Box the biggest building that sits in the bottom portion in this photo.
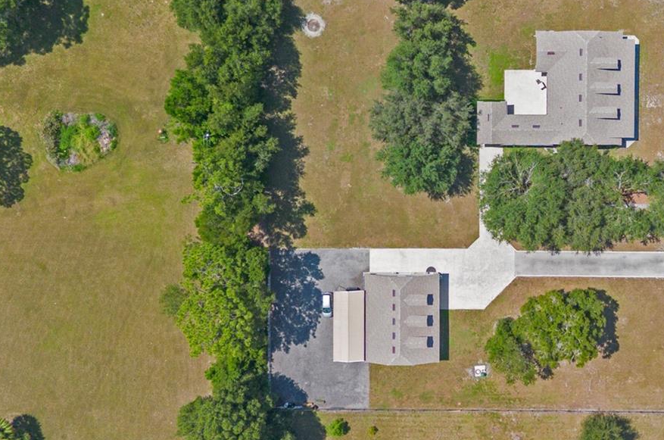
[366,272,440,363]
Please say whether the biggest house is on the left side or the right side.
right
